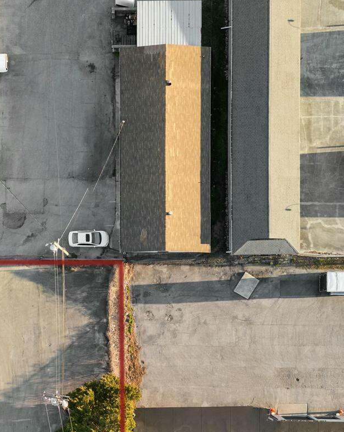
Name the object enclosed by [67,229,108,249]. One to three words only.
car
